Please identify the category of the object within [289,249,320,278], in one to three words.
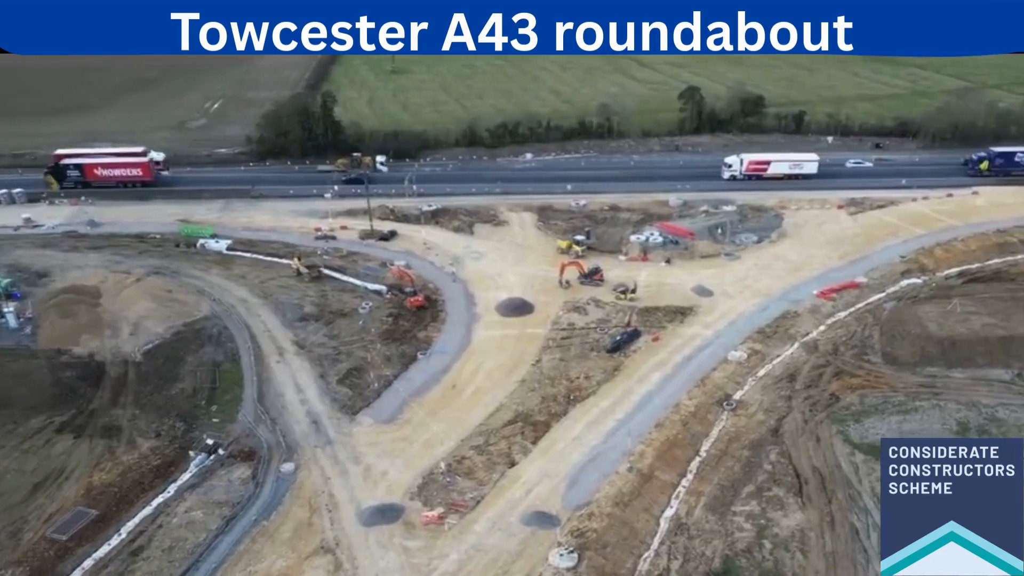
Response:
truck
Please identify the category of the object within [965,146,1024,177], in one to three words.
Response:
truck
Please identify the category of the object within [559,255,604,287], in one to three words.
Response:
work vehicle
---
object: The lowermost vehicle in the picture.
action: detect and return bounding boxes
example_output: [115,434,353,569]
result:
[608,326,642,352]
